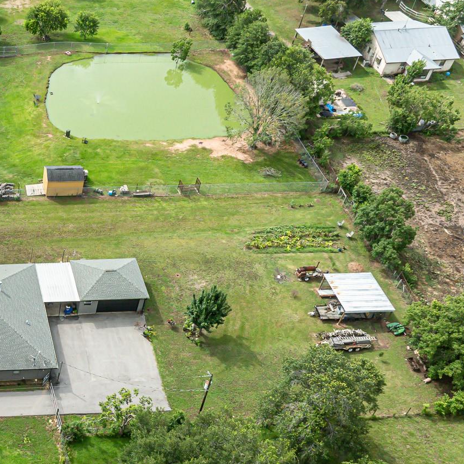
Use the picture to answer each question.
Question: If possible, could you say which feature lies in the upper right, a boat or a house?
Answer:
house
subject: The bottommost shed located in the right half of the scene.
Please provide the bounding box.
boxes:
[314,272,395,325]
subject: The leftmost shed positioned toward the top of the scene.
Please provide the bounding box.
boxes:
[31,169,88,196]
